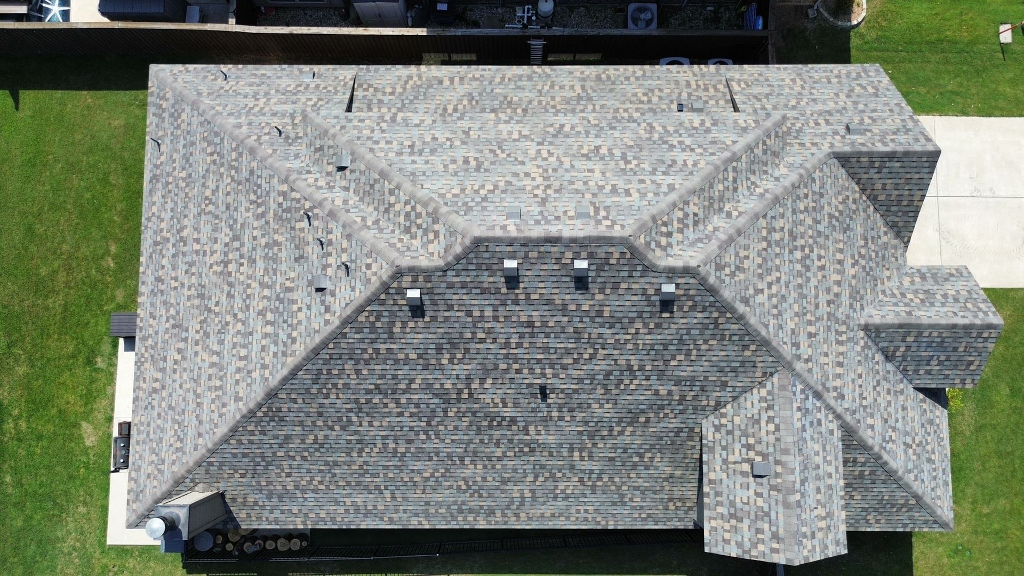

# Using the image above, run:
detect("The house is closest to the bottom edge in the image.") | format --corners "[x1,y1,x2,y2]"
[126,64,1003,566]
